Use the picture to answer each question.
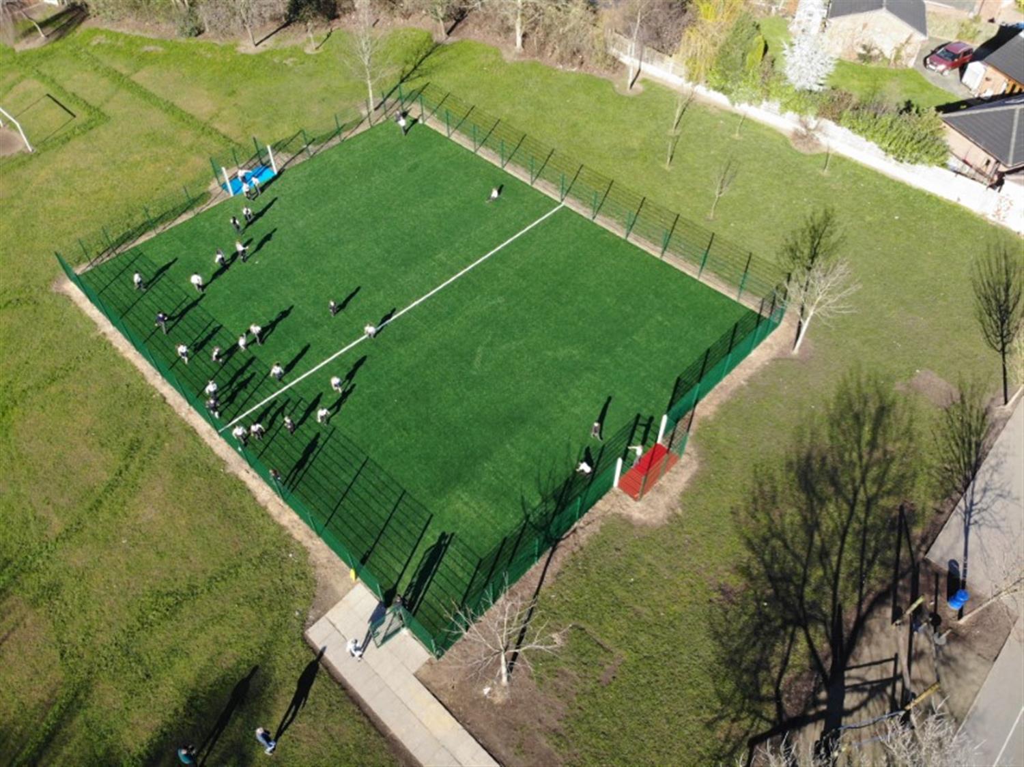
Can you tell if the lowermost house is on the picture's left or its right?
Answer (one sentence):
You can find the lowermost house on the right side of the picture.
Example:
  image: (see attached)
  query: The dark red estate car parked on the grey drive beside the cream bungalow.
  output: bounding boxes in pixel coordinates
[929,36,981,77]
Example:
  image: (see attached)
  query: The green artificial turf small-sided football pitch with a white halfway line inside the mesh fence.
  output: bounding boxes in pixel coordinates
[73,110,779,662]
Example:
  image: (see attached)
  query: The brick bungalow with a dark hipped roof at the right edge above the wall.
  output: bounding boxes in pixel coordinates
[932,97,1024,194]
